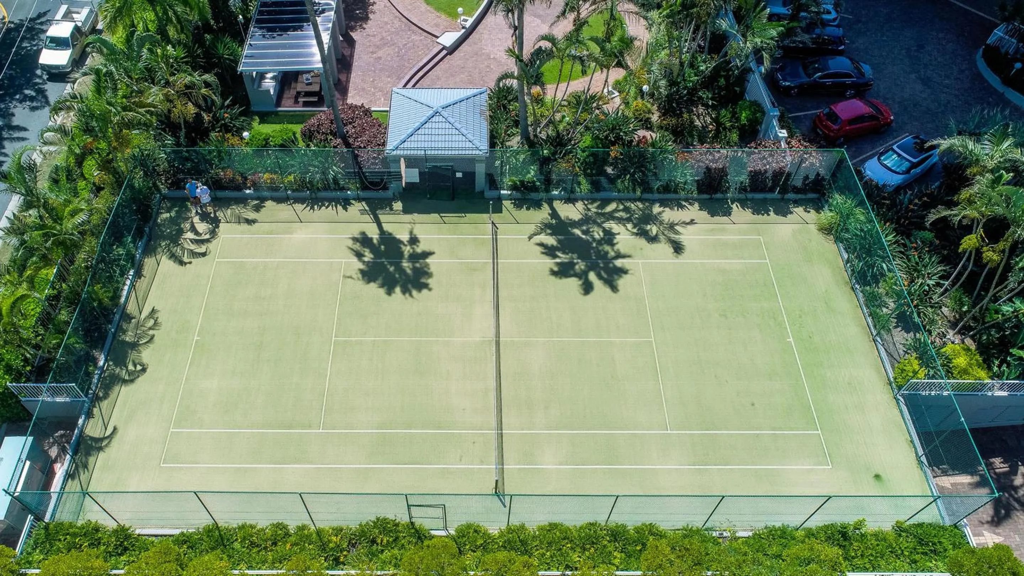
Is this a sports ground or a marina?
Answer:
sports ground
